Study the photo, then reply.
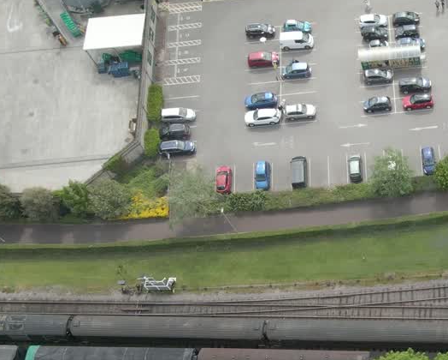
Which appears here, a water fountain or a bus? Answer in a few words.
bus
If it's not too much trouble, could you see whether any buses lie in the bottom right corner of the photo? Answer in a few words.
Yes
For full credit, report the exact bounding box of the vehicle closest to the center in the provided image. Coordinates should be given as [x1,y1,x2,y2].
[215,168,234,196]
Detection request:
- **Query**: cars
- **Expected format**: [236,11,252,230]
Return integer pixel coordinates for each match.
[159,122,192,140]
[362,96,393,114]
[283,20,311,33]
[281,63,312,80]
[356,13,390,29]
[390,11,422,28]
[215,168,234,196]
[404,94,433,111]
[398,76,433,95]
[253,162,272,191]
[246,92,278,110]
[281,104,319,122]
[393,24,422,40]
[246,51,281,69]
[163,107,197,125]
[420,147,436,176]
[243,22,278,42]
[362,69,393,87]
[160,139,198,159]
[246,107,281,128]
[345,154,364,185]
[397,36,427,51]
[358,25,391,43]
